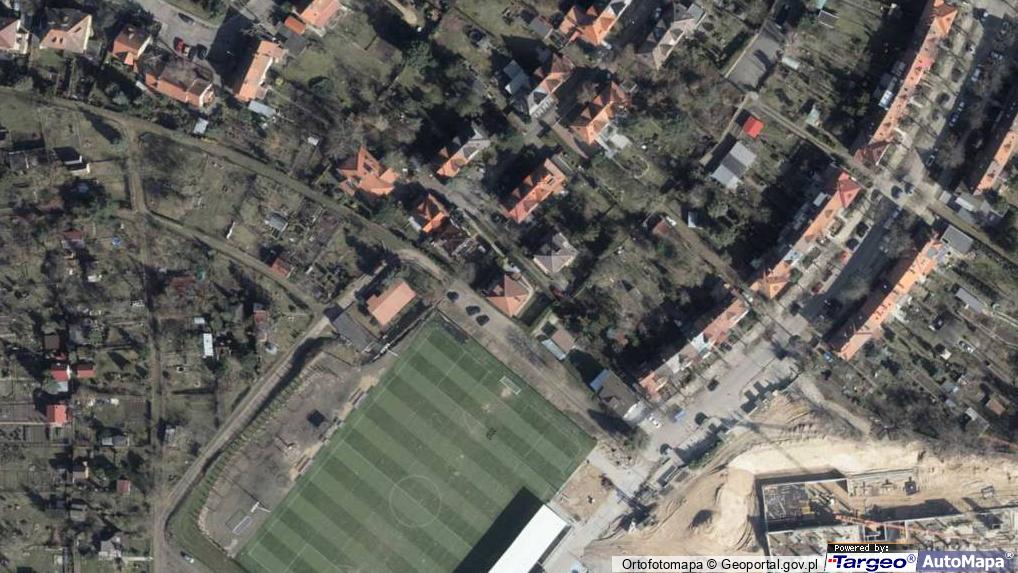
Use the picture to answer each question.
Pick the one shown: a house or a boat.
house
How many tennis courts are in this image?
0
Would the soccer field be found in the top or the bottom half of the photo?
bottom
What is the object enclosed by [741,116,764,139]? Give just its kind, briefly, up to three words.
shed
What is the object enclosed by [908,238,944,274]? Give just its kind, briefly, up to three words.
house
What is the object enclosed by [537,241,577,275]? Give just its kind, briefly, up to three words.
house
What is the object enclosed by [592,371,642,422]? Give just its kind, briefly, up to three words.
building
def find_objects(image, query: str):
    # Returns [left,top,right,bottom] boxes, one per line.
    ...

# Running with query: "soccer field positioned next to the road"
[230,311,599,573]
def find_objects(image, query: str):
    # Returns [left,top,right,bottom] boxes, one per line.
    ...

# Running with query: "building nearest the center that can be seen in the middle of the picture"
[490,276,531,316]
